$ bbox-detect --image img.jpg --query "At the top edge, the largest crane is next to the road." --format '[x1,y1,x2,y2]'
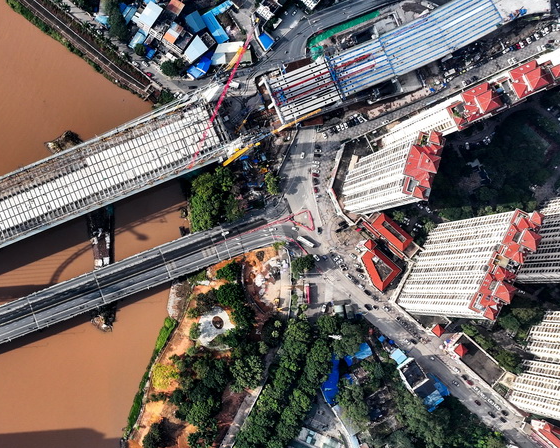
[190,11,260,168]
